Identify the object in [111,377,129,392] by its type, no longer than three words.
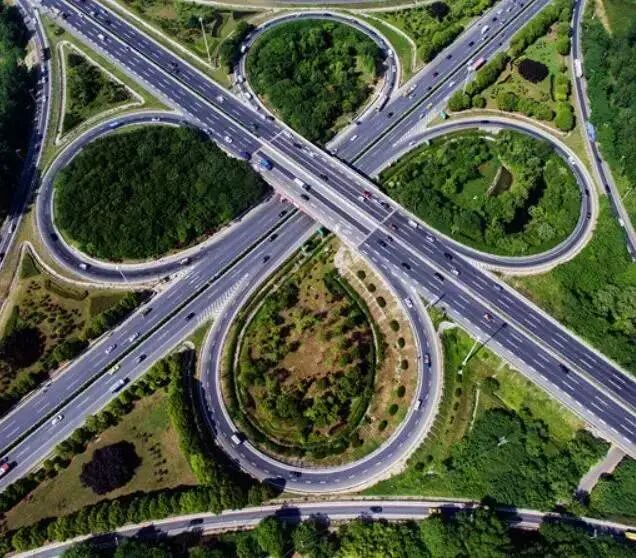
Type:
vehicle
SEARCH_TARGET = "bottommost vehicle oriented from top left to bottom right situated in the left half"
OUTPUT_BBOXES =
[228,432,243,449]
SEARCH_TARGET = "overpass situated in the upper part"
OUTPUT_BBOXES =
[242,126,401,249]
